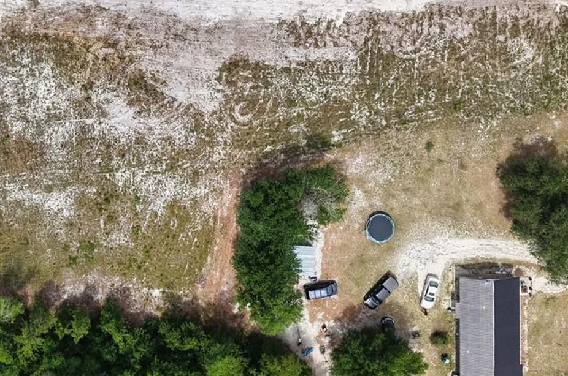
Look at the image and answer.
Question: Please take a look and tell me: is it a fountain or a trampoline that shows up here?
trampoline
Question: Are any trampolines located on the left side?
No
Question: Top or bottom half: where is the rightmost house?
bottom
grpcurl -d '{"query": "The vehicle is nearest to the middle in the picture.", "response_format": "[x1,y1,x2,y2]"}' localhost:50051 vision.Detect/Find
[305,278,338,299]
